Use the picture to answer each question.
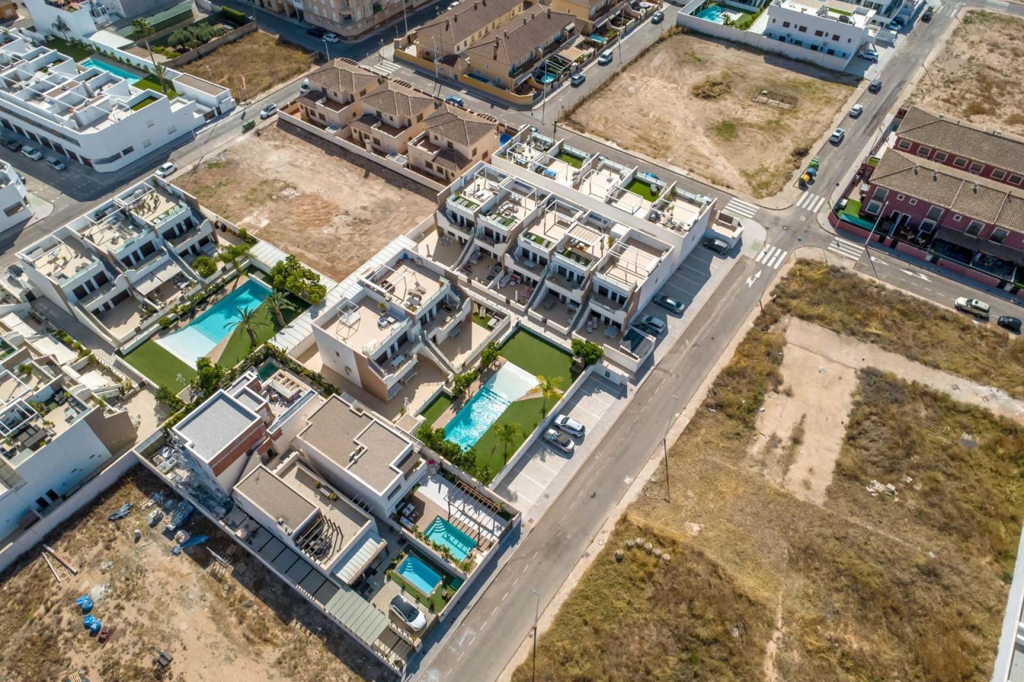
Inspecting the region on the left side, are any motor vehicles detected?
Yes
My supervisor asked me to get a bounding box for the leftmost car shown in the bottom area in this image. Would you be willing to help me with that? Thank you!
[387,595,427,632]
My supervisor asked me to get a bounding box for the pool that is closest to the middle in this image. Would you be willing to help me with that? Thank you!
[441,362,535,450]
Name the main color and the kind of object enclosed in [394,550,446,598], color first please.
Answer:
blue swimming pool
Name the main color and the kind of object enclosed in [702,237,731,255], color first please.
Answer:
black car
